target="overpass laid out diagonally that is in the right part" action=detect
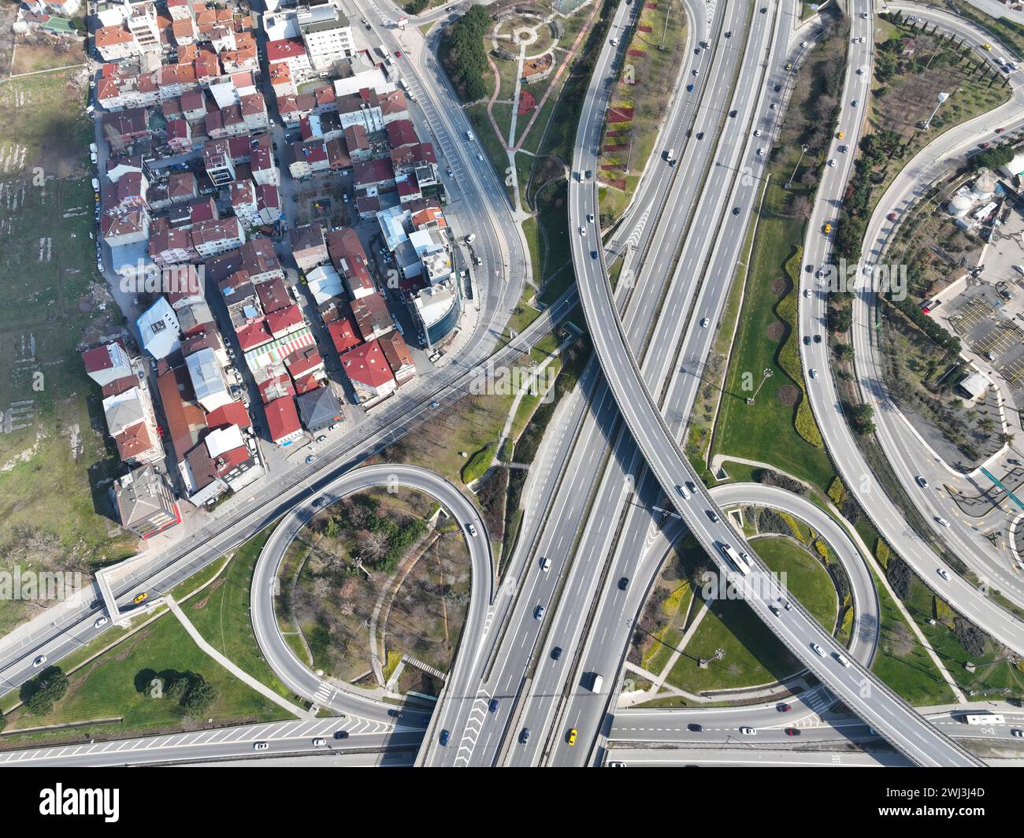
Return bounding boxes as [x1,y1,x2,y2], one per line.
[566,0,1024,838]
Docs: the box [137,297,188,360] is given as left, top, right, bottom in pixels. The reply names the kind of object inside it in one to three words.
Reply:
building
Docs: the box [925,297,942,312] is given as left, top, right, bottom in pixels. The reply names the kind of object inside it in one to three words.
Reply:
vehicle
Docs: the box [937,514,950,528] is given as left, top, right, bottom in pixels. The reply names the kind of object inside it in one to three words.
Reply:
vehicle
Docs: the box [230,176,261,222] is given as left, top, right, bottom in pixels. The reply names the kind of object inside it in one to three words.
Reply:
house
